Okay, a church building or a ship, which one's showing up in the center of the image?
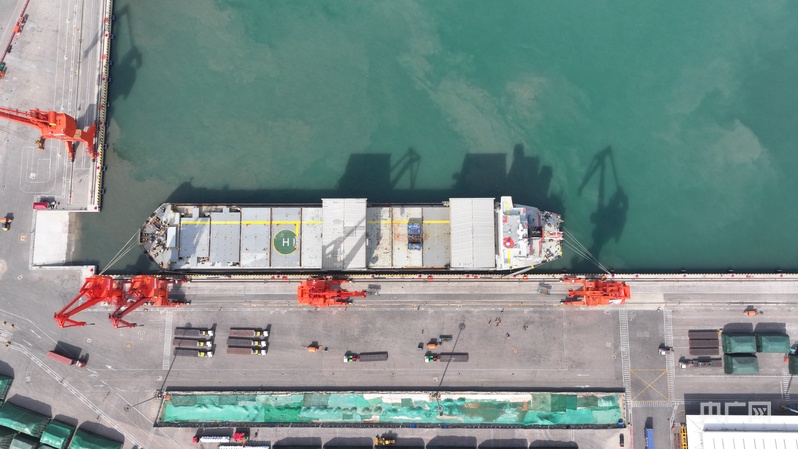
ship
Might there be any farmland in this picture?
No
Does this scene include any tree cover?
No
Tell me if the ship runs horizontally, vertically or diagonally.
horizontally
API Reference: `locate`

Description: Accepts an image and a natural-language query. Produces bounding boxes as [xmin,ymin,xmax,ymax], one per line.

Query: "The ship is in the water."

[136,195,564,272]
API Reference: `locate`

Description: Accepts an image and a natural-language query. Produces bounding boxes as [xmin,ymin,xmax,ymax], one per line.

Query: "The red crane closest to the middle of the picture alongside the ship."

[300,276,379,309]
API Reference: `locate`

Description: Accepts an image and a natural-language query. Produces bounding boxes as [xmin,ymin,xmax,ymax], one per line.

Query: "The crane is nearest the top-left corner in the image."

[0,97,97,161]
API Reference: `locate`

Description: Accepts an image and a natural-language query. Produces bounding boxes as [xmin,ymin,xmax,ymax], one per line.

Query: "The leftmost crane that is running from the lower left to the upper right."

[55,276,141,331]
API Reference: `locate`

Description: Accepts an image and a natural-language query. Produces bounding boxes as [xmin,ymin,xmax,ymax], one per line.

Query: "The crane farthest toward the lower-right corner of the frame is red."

[542,276,628,309]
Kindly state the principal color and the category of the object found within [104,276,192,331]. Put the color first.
red crane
